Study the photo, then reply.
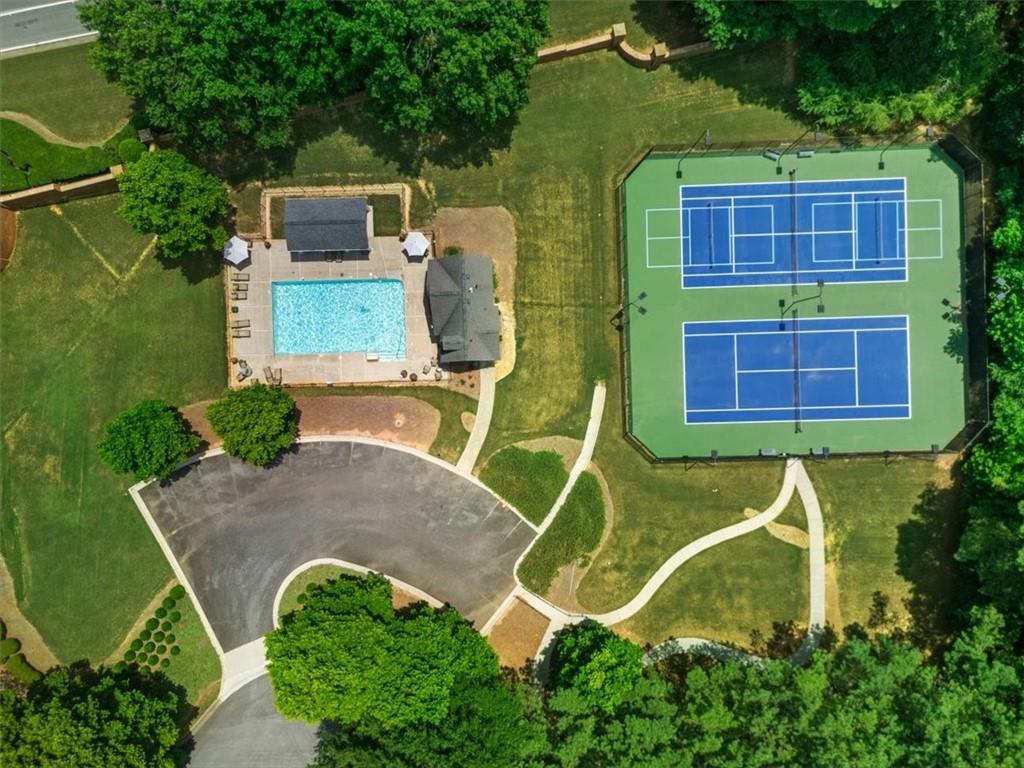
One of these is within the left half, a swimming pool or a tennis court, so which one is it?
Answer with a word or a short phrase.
swimming pool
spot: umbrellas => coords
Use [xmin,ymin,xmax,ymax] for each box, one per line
[225,237,249,263]
[403,233,429,255]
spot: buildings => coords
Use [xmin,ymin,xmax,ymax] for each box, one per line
[284,196,374,256]
[428,255,501,362]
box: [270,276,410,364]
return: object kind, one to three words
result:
swimming pool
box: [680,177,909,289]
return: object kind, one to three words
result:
tennis court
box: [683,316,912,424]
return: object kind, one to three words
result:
tennis court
